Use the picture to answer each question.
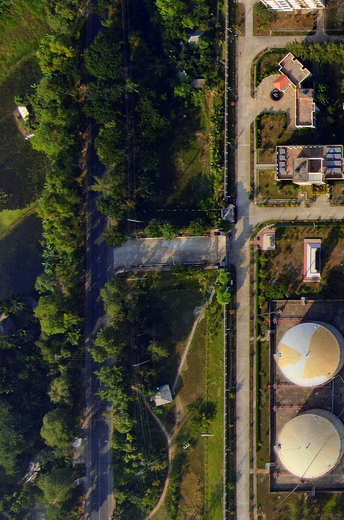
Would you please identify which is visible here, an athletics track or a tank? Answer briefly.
tank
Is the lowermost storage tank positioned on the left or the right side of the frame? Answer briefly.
right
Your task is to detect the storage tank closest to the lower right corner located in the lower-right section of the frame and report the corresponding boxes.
[276,409,344,479]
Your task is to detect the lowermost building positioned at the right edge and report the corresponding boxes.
[276,146,344,184]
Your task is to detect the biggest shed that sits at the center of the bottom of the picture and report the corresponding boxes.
[155,385,174,406]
